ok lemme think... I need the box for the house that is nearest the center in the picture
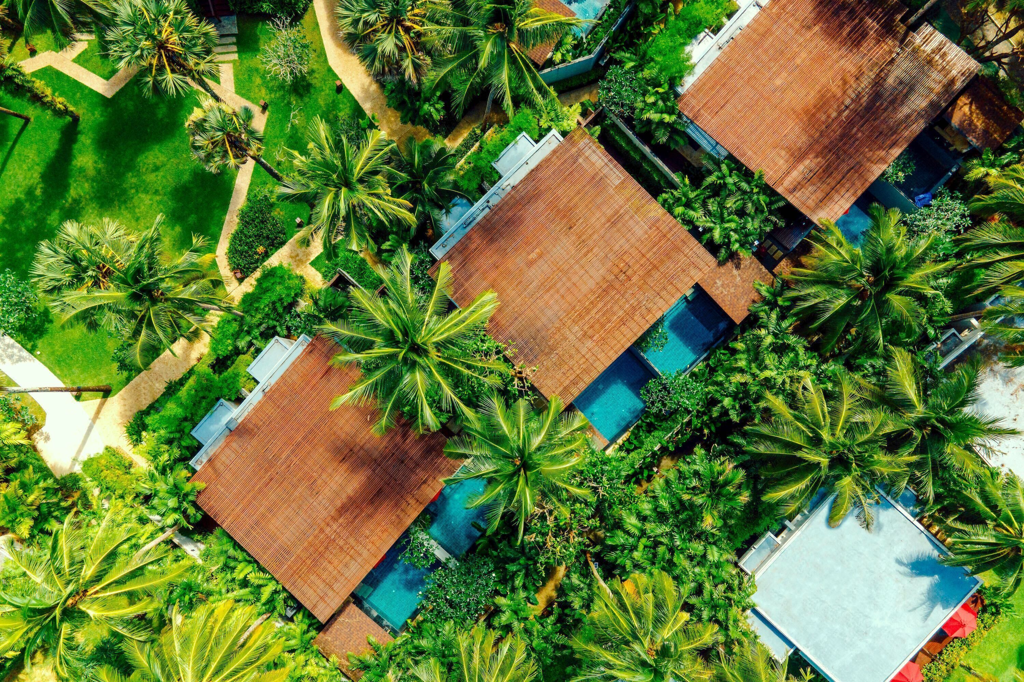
[427,126,717,411]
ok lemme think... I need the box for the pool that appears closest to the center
[568,350,660,446]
